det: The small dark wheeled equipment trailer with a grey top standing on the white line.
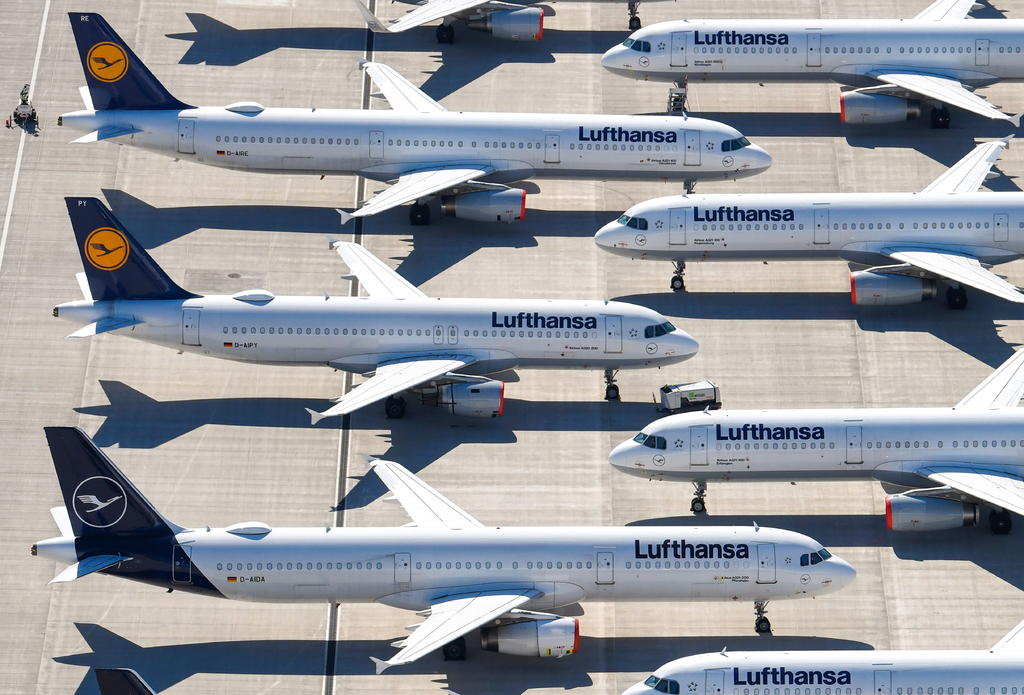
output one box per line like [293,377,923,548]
[5,82,45,130]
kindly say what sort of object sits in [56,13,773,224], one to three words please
airplane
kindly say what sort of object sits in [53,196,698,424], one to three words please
airplane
